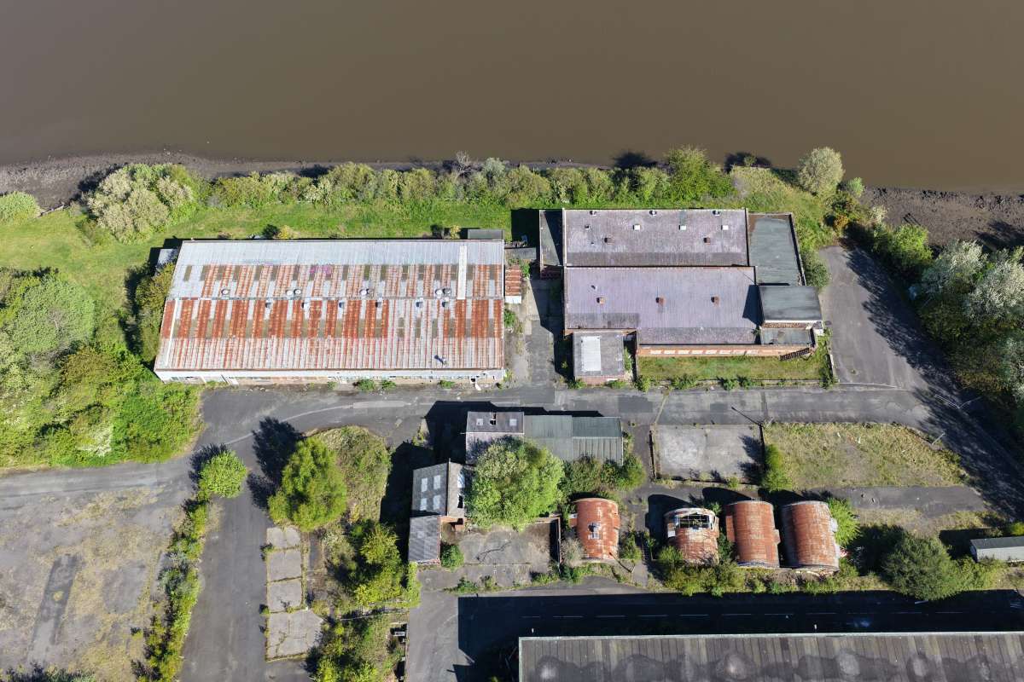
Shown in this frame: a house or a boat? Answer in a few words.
house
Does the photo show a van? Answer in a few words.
No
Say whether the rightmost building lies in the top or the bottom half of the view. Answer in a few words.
bottom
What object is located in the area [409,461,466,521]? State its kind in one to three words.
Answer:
house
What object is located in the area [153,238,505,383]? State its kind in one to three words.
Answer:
shed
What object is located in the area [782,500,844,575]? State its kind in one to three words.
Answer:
shed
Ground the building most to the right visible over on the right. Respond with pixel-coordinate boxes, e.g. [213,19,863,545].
[965,540,1024,570]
